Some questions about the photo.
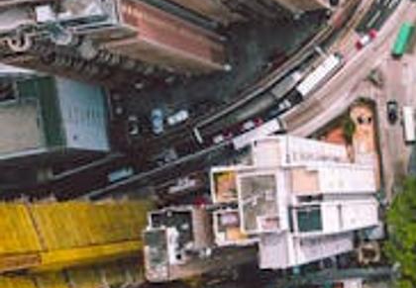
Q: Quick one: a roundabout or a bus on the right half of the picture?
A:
bus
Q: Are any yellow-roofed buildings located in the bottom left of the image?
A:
Yes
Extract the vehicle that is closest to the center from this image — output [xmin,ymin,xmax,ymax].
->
[213,129,236,145]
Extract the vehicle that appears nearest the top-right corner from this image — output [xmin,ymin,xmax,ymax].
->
[392,20,416,59]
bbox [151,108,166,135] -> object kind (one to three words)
vehicle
